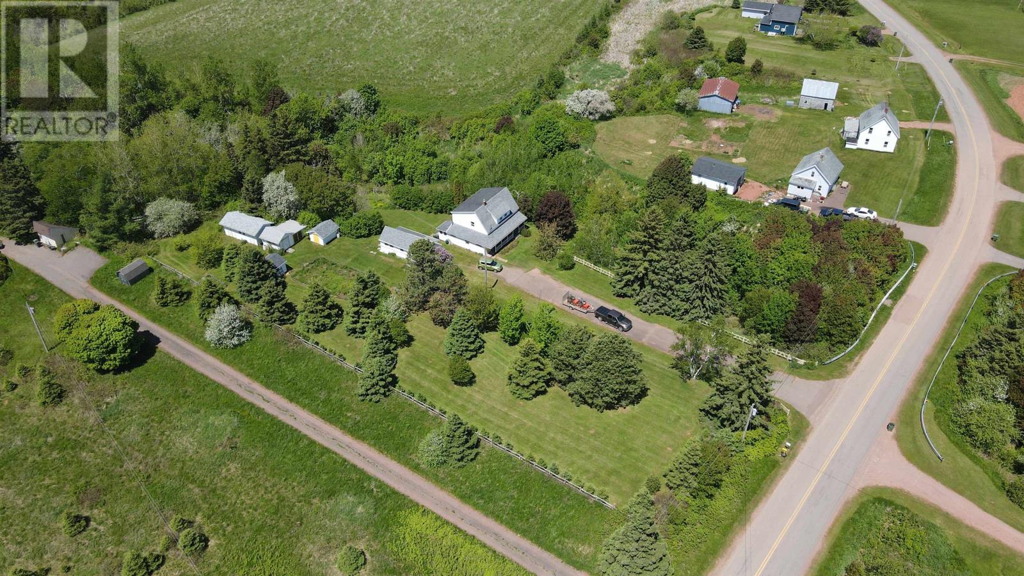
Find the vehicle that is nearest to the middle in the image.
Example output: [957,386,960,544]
[476,256,503,272]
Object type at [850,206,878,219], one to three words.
vehicle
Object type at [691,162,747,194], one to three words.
shed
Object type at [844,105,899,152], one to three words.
house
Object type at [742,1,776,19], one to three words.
building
